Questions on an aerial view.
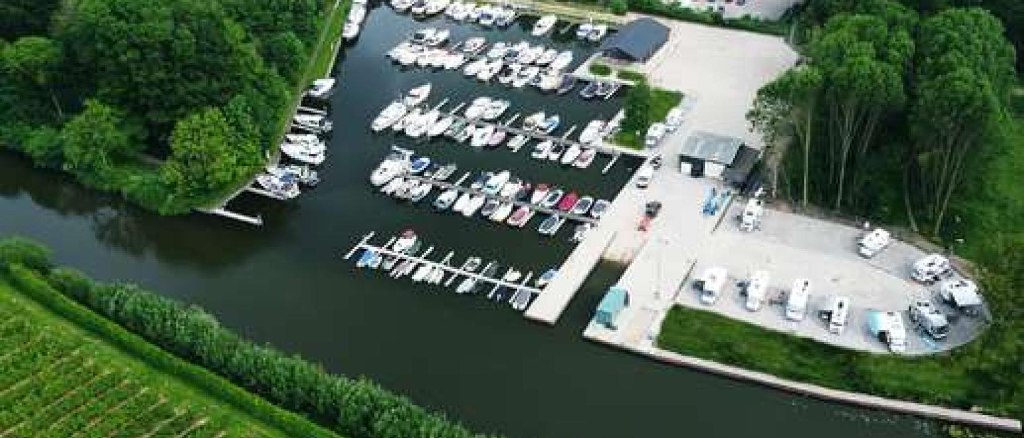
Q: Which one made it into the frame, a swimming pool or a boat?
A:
boat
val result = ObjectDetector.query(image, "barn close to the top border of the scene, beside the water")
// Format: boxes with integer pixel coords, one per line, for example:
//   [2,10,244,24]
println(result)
[597,19,673,65]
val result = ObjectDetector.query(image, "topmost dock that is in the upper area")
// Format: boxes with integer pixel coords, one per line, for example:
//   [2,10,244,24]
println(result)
[408,41,567,74]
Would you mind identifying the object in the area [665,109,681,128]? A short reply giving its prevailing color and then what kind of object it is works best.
white vehicle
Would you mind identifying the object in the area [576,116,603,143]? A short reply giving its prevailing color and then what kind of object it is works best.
white boat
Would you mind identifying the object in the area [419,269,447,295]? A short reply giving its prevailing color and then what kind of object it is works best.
white boat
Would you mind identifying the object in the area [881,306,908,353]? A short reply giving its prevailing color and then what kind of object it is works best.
white camper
